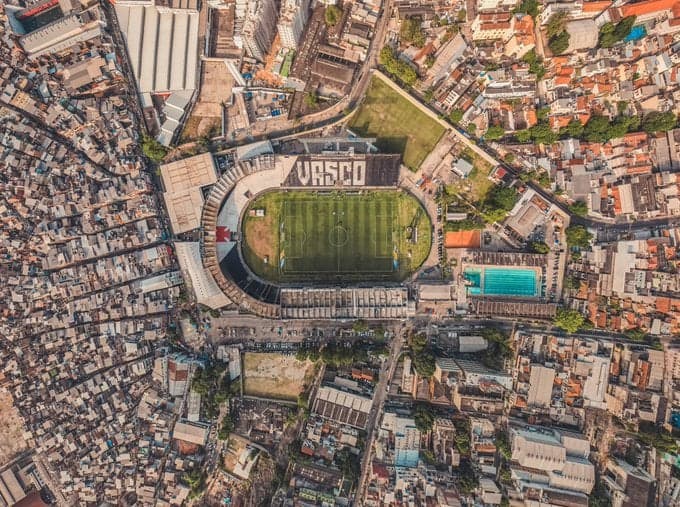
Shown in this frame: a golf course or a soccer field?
soccer field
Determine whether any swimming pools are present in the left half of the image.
No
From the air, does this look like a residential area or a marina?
residential area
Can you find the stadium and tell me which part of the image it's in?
center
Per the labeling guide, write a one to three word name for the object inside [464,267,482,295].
swimming pool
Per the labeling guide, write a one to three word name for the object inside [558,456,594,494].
shed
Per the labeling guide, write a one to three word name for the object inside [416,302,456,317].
building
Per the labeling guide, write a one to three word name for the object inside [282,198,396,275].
soccer field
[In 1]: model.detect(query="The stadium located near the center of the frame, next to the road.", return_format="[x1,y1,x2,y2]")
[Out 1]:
[201,153,433,321]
